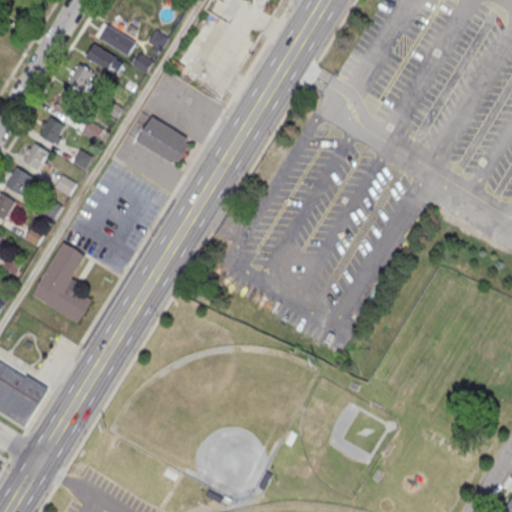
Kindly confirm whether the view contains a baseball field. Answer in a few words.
Yes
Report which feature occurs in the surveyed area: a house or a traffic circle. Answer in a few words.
house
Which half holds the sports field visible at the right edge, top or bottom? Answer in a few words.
bottom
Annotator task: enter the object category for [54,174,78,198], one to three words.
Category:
building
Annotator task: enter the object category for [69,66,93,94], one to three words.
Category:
house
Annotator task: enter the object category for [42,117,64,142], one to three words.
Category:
house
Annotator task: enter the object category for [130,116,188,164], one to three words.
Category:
building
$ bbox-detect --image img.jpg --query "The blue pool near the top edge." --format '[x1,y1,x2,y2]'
[158,2,176,25]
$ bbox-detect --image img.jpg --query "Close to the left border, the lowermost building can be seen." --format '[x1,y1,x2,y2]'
[0,359,48,428]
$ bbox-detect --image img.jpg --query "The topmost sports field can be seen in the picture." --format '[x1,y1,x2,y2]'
[371,267,512,420]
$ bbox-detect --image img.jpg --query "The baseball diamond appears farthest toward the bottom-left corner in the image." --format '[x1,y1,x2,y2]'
[110,345,318,500]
